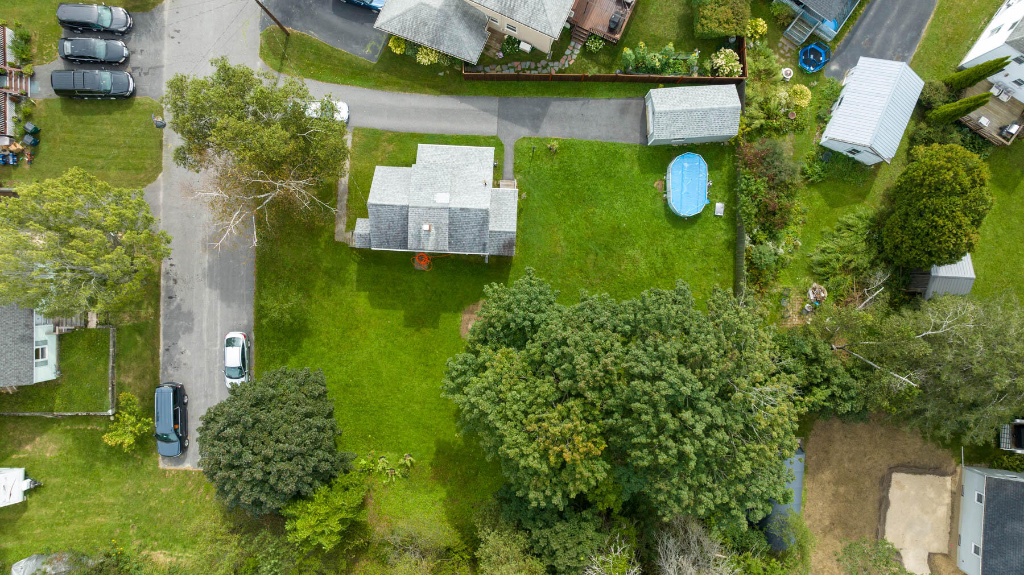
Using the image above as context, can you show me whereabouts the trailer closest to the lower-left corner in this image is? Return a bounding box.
[0,464,46,508]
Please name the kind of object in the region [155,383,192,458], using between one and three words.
car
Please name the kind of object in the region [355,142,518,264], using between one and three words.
house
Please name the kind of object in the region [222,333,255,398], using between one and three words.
car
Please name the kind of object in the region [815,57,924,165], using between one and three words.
building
